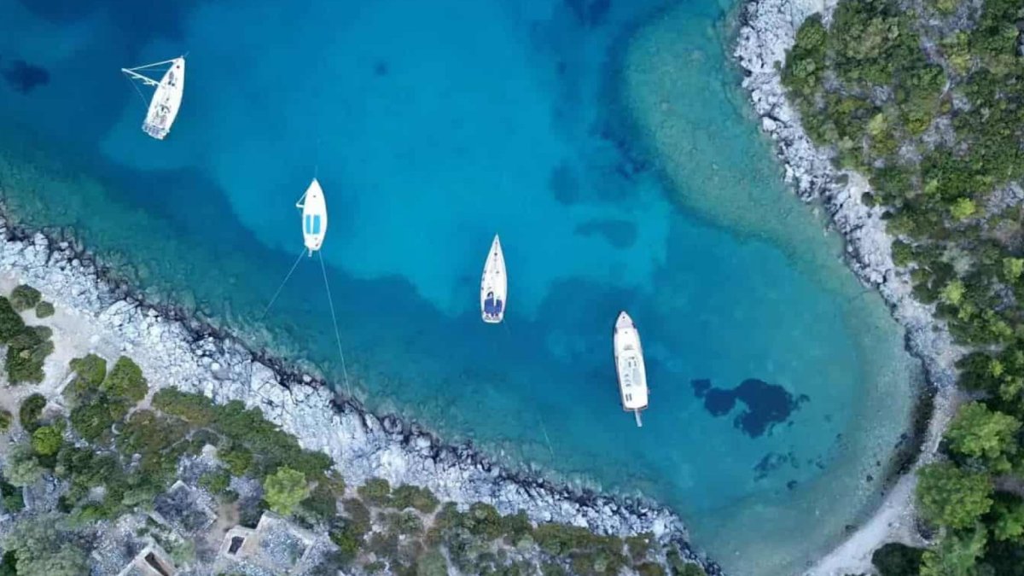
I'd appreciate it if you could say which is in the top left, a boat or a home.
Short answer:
boat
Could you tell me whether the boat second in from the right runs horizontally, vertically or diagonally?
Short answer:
vertically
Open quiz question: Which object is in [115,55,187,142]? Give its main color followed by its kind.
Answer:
white boat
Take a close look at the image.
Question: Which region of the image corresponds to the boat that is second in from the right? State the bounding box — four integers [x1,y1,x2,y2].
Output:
[482,233,508,322]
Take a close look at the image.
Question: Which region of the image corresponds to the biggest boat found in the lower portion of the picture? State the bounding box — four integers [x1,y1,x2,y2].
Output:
[611,311,647,425]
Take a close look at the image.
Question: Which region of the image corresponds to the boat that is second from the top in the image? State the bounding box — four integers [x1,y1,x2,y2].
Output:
[296,177,328,261]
